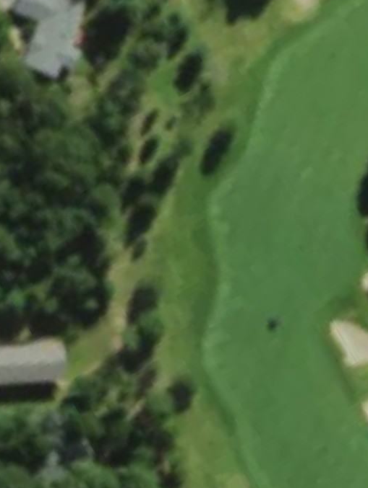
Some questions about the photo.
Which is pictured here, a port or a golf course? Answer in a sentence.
The area seen from above is a golf course.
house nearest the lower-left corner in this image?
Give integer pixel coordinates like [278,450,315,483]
[36,422,91,476]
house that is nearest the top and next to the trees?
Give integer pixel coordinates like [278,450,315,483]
[11,0,90,81]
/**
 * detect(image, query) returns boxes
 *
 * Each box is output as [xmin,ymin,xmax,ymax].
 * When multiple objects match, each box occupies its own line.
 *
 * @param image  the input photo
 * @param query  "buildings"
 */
[36,422,91,476]
[0,338,68,385]
[11,0,90,81]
